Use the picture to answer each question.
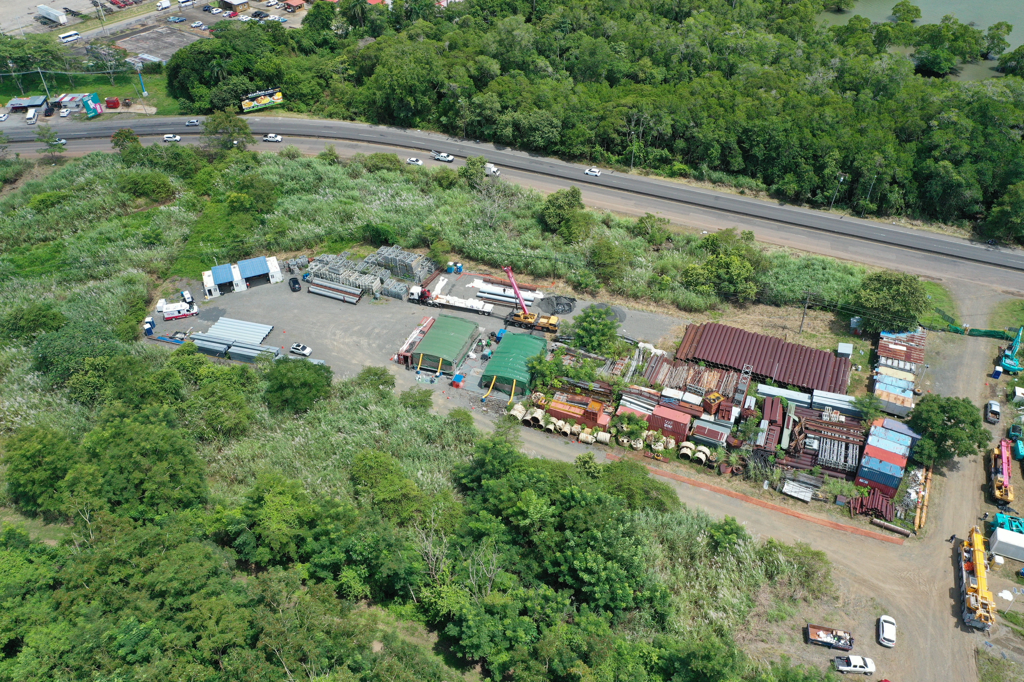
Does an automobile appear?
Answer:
Yes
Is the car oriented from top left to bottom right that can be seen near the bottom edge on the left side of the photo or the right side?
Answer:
right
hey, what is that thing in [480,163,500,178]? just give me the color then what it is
white vehicle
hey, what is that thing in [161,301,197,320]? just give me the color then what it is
white vehicle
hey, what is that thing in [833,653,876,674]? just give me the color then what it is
white truck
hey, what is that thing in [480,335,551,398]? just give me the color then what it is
green tent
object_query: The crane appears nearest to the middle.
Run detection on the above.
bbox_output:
[502,261,563,333]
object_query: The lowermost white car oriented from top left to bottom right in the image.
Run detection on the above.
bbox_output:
[875,616,901,648]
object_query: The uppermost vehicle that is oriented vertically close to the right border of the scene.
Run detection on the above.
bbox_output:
[998,341,1019,386]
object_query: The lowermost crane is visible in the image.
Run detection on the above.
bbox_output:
[962,526,994,621]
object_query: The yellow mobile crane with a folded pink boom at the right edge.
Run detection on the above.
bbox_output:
[988,433,1018,502]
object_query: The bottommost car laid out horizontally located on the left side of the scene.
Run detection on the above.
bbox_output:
[288,342,313,356]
